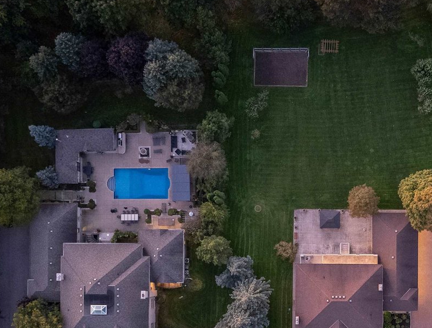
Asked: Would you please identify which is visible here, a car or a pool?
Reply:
pool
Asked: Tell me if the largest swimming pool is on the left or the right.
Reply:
left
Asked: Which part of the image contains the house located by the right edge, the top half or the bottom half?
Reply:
bottom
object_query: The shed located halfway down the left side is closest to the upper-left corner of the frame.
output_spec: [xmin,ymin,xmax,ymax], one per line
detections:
[55,128,116,184]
